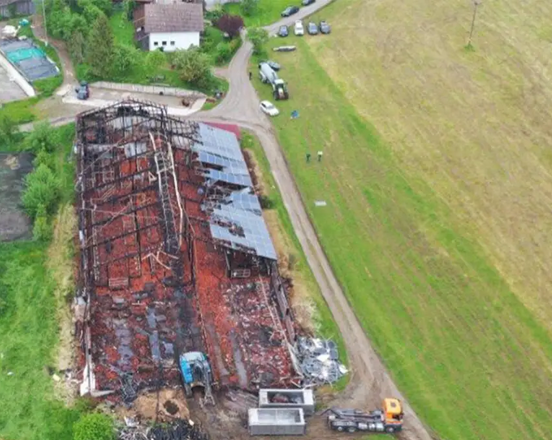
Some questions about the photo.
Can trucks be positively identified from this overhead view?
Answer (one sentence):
Yes, the photo shows a truck.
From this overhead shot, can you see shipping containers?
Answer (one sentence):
Yes, there's a shipping container here.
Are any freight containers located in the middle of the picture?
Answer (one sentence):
No, the scene shows no freight container in the middle of the picture.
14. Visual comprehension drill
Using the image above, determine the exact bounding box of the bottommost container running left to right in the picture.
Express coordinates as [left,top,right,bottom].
[249,406,307,435]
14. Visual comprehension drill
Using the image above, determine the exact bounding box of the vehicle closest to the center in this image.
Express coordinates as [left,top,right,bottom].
[259,99,280,118]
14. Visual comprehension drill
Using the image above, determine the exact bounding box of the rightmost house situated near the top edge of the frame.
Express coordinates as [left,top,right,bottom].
[134,0,202,51]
